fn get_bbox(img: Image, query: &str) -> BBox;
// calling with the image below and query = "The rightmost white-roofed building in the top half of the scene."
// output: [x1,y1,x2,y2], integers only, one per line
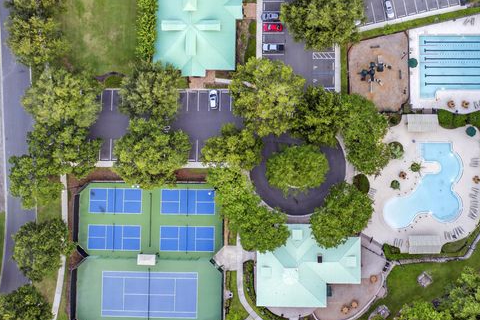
[406,114,439,132]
